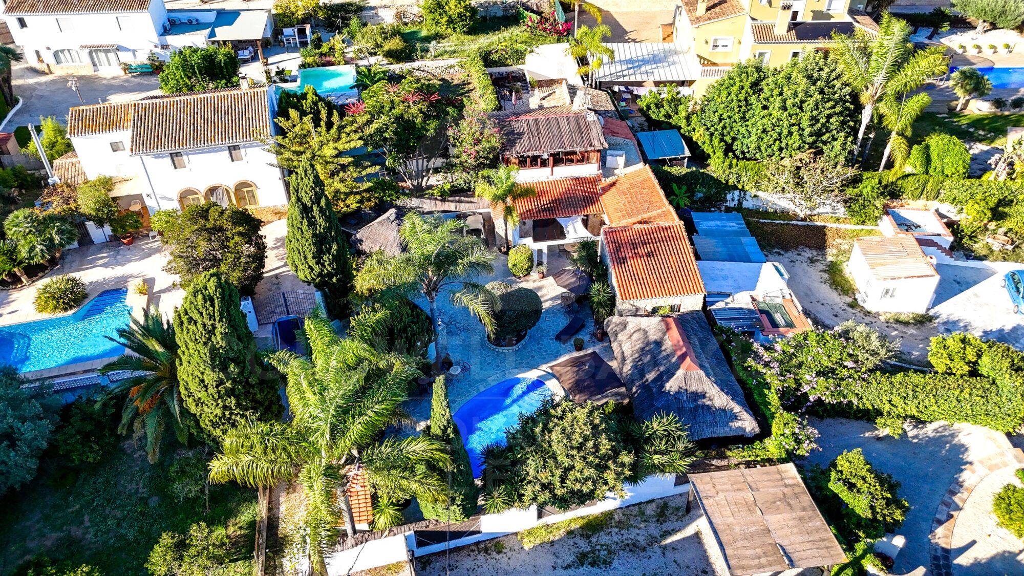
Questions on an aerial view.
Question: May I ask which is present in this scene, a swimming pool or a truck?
swimming pool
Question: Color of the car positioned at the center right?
blue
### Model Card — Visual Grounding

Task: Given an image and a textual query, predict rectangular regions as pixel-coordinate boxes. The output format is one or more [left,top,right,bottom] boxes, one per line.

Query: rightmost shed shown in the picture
[839,236,941,317]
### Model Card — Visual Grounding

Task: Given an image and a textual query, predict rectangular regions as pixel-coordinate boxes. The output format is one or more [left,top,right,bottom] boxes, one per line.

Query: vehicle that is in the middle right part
[1004,266,1024,314]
